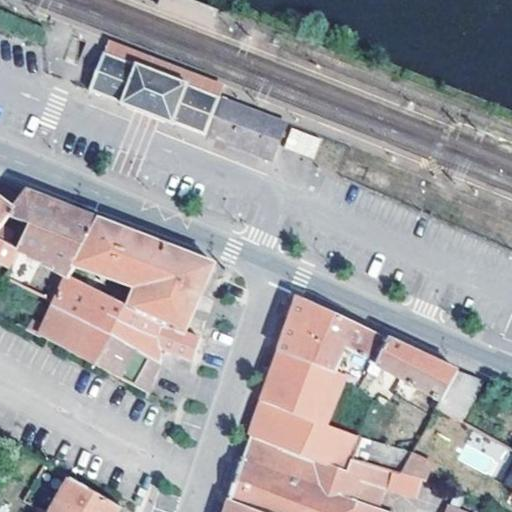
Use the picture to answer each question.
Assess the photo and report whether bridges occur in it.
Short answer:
No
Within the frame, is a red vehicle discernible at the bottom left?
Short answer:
No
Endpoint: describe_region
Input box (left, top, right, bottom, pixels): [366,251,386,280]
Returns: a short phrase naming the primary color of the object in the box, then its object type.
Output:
white vehicle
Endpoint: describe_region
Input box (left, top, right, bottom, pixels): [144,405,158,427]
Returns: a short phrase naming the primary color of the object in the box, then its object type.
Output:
white car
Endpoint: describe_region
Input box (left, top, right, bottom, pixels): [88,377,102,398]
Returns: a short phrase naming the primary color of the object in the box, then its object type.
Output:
white car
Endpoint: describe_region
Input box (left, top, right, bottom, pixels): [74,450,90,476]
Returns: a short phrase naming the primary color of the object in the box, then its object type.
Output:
white vehicle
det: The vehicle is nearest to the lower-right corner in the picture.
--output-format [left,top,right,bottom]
[459,298,474,319]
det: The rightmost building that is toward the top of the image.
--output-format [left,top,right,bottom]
[284,128,322,158]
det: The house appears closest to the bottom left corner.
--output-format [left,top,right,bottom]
[47,477,125,512]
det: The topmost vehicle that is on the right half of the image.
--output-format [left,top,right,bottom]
[346,184,358,204]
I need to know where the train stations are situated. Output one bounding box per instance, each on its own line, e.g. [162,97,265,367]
[88,40,223,136]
